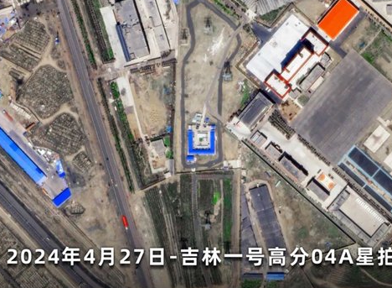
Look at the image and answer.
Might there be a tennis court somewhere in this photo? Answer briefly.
No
